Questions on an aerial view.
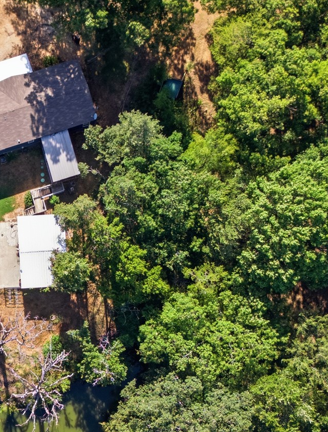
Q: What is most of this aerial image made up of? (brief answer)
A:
trees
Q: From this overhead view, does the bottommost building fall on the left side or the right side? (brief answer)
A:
left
